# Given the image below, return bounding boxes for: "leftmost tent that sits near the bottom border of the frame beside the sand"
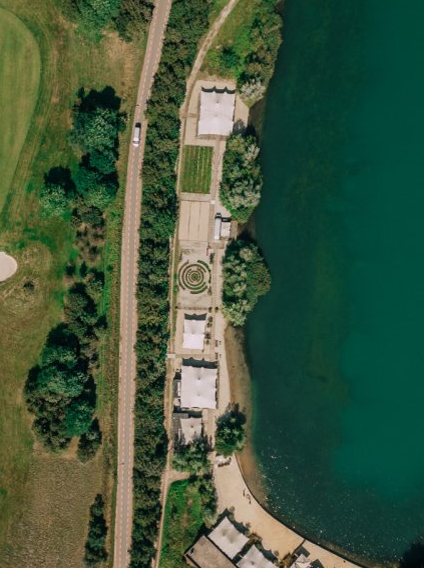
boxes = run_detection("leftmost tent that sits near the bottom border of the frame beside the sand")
[207,514,249,557]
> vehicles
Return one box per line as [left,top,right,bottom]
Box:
[133,126,142,148]
[213,215,222,241]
